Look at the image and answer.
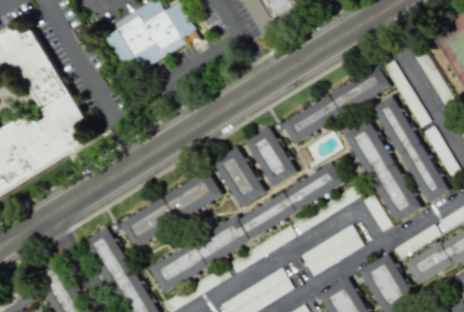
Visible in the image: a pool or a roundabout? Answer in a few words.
pool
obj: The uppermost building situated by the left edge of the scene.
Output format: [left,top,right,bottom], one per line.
[0,29,91,196]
